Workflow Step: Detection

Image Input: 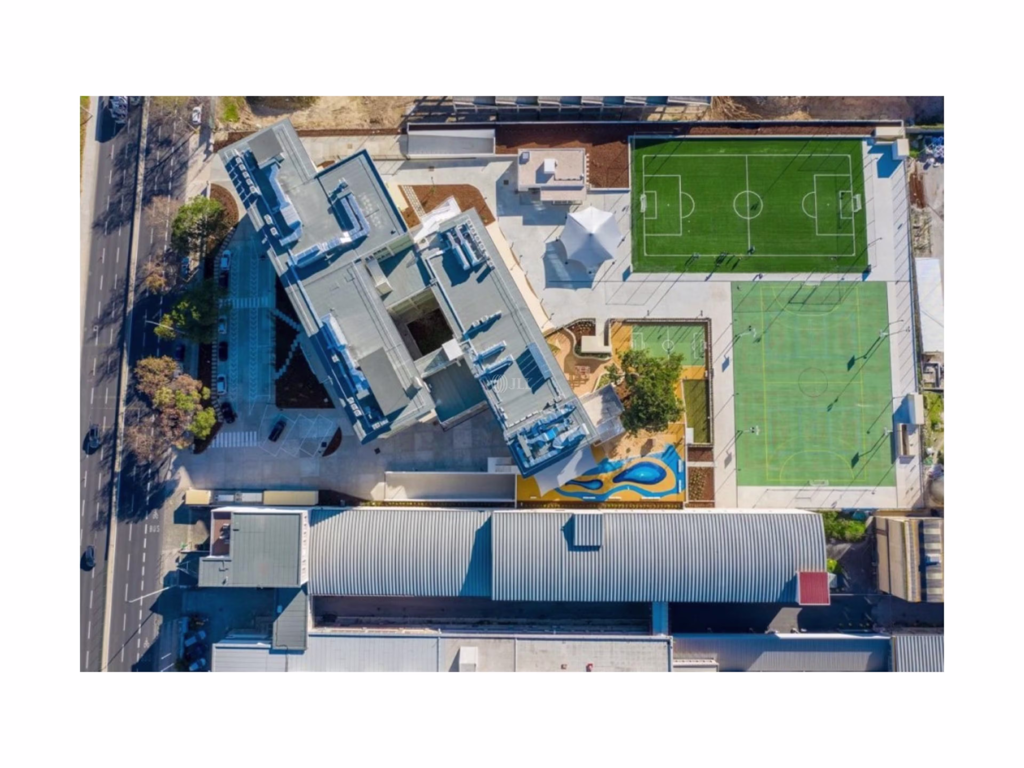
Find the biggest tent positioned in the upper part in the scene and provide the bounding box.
[556,201,625,275]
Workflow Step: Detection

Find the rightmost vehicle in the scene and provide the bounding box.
[269,421,287,442]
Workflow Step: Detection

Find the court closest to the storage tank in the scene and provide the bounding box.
[731,281,896,487]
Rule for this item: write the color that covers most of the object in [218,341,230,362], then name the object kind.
black vehicle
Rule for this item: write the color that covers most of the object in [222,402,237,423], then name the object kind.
black car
